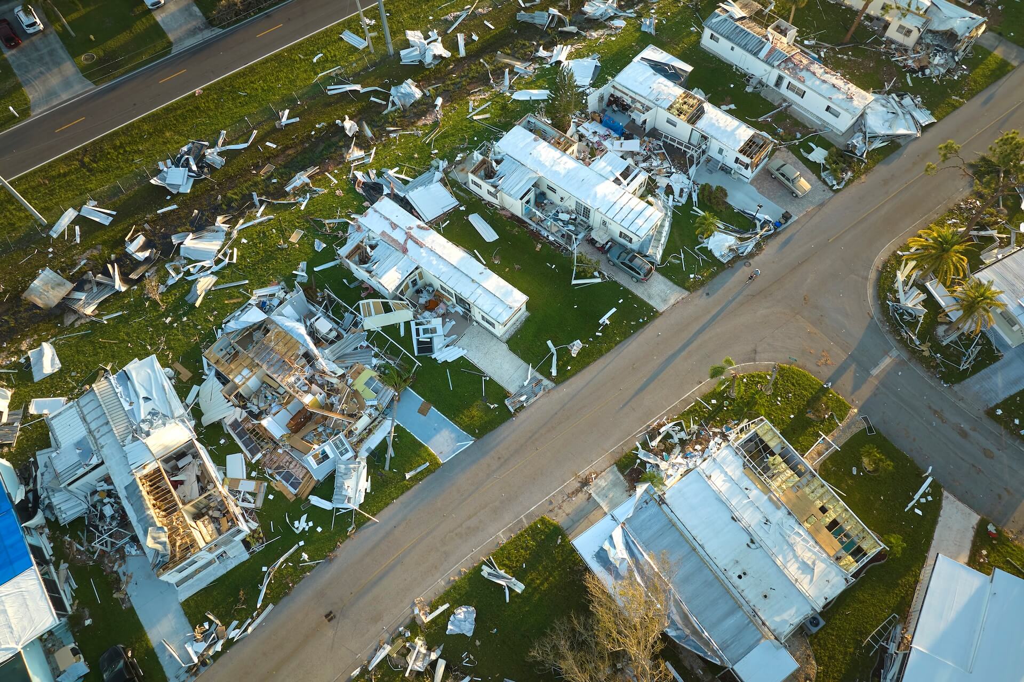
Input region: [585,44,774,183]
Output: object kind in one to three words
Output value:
house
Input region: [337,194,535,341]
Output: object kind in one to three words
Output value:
house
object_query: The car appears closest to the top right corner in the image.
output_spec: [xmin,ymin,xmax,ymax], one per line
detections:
[764,159,813,200]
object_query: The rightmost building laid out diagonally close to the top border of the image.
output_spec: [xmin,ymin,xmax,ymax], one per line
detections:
[697,0,876,134]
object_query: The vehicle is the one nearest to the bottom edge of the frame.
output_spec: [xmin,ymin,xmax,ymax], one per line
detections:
[93,633,152,682]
